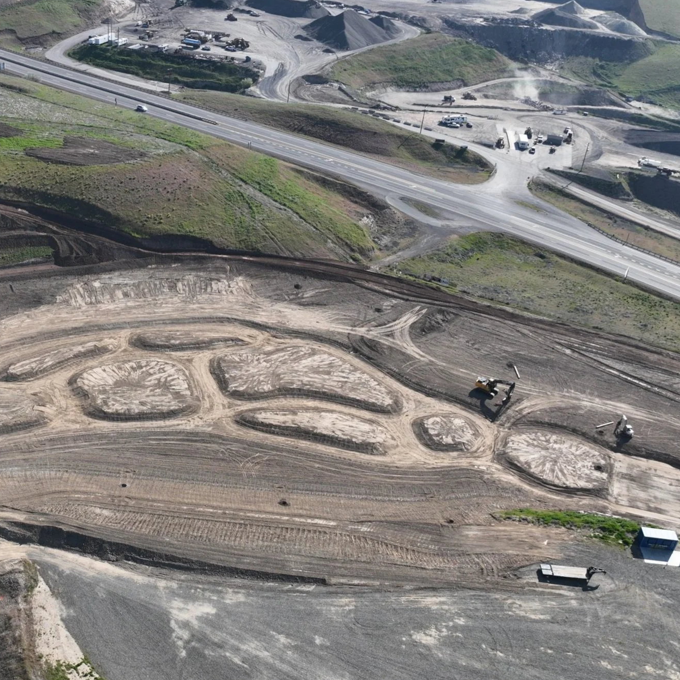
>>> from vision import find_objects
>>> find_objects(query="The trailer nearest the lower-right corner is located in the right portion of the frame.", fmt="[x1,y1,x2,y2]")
[539,564,607,582]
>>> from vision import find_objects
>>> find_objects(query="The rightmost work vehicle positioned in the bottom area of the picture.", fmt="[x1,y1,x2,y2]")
[612,416,641,442]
